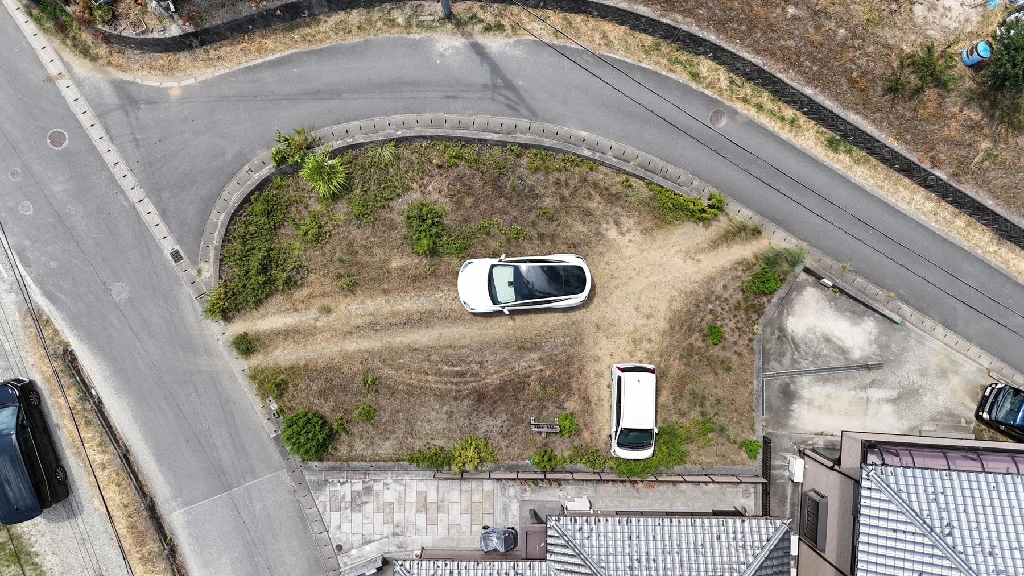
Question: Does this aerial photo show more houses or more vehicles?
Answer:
vehicles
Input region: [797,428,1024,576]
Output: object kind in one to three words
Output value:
house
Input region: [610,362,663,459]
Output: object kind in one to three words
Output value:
car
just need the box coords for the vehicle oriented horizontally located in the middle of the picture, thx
[459,251,593,318]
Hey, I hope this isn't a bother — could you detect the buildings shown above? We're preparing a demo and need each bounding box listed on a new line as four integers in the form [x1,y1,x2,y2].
[390,497,794,576]
[797,428,1024,576]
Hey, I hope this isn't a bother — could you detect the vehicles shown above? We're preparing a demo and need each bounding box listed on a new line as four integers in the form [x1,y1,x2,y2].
[459,251,593,318]
[610,362,663,459]
[972,387,1024,435]
[0,375,67,524]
